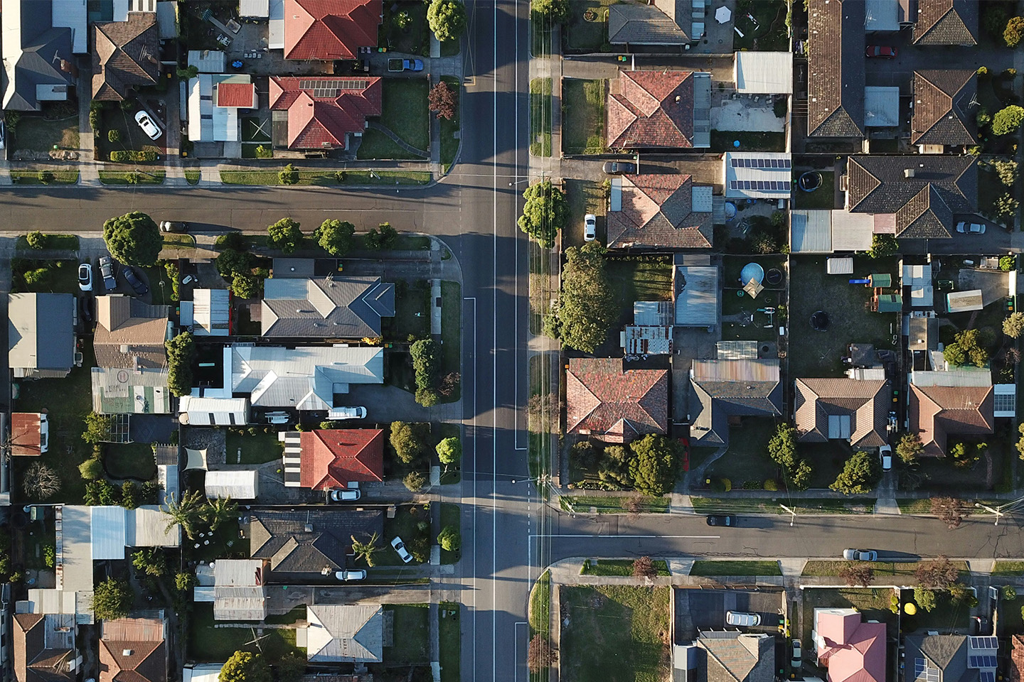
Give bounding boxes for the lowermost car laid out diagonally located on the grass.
[390,537,413,565]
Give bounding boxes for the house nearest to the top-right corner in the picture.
[899,0,979,48]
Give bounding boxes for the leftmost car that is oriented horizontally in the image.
[159,219,191,234]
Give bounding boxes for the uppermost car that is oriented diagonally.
[135,108,162,141]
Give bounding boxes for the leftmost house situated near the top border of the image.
[0,0,92,112]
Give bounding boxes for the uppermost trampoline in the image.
[798,168,825,192]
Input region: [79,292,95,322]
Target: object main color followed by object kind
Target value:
black car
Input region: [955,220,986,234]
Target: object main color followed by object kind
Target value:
blue car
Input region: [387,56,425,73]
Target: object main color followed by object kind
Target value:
blue car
